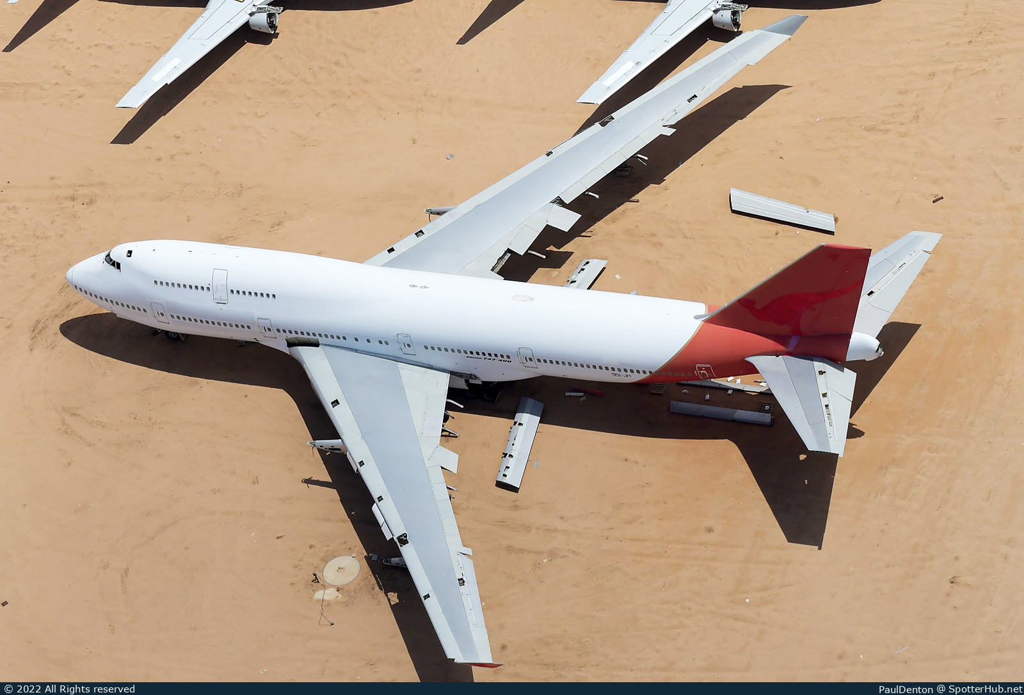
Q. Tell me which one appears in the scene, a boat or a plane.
plane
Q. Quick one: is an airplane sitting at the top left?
Yes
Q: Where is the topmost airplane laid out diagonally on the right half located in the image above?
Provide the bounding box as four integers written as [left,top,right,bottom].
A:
[579,0,754,102]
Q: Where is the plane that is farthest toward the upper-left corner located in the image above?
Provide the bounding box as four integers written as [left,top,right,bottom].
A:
[115,0,290,107]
